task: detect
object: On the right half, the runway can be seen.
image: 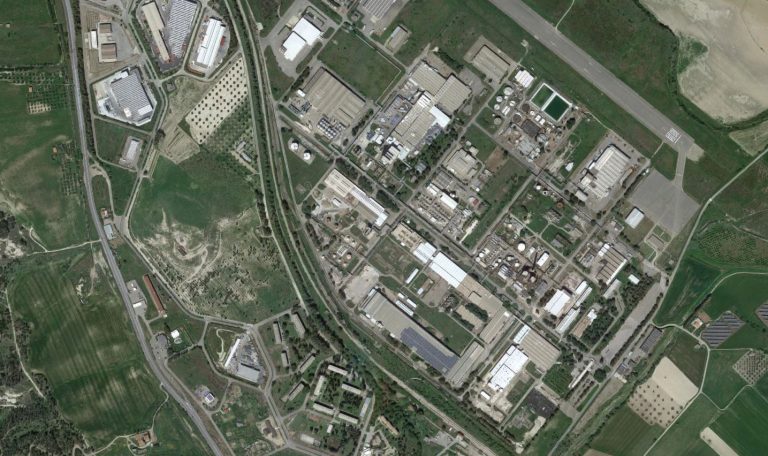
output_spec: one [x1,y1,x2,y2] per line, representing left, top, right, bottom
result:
[494,0,693,151]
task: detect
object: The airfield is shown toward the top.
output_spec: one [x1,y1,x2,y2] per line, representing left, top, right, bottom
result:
[489,0,705,236]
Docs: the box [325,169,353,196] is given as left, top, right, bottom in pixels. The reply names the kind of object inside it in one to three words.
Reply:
building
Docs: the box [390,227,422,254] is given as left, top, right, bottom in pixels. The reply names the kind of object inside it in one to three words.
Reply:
building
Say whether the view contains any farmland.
Yes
